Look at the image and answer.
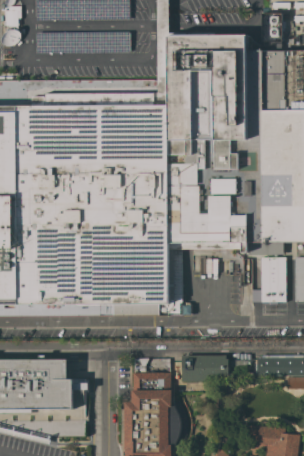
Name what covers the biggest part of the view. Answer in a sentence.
The bulk of the photo consists of buildings.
